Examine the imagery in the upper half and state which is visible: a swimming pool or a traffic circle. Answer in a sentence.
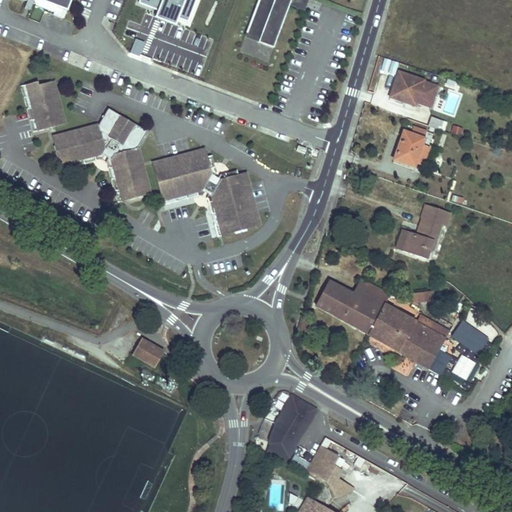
What appears in the upper half is a swimming pool.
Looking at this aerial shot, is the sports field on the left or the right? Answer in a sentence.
It is on the left.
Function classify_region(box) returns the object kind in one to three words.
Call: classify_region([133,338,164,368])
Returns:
house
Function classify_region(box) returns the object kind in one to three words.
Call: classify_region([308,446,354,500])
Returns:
house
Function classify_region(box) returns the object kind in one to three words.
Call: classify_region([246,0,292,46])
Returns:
building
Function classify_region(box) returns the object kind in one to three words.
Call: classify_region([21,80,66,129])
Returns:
building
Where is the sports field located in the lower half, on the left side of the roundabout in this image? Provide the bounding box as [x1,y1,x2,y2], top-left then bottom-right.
[0,318,190,512]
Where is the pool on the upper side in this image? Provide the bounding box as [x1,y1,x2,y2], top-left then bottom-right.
[433,88,463,118]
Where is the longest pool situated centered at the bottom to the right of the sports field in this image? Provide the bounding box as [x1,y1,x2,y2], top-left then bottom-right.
[268,480,286,511]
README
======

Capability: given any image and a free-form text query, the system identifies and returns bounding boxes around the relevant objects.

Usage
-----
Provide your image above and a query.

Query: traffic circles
[192,296,290,394]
